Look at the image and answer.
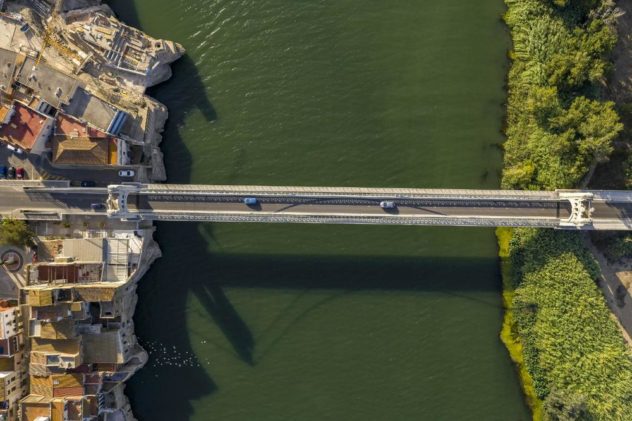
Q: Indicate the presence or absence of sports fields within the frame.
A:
No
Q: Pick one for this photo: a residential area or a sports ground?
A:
residential area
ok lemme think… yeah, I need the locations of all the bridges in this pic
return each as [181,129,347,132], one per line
[28,182,632,231]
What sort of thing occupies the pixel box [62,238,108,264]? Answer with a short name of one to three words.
building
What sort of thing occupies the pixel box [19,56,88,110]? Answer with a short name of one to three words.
building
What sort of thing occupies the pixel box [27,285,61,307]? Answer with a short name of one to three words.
house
